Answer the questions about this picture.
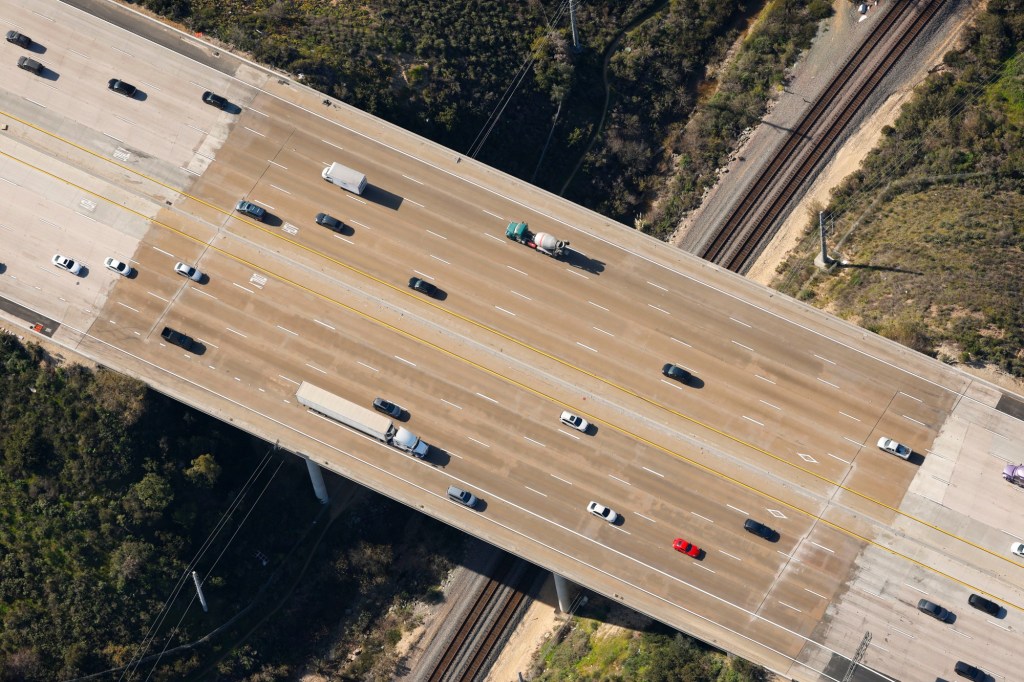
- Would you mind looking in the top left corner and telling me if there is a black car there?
Yes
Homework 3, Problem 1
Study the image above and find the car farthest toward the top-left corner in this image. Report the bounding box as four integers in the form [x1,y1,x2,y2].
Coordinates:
[5,31,33,50]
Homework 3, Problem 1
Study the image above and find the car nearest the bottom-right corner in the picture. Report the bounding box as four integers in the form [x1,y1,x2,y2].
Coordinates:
[952,661,986,682]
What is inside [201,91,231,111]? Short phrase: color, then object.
black car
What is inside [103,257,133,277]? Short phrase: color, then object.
white car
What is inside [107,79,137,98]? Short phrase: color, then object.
black car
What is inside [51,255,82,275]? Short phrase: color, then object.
white car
